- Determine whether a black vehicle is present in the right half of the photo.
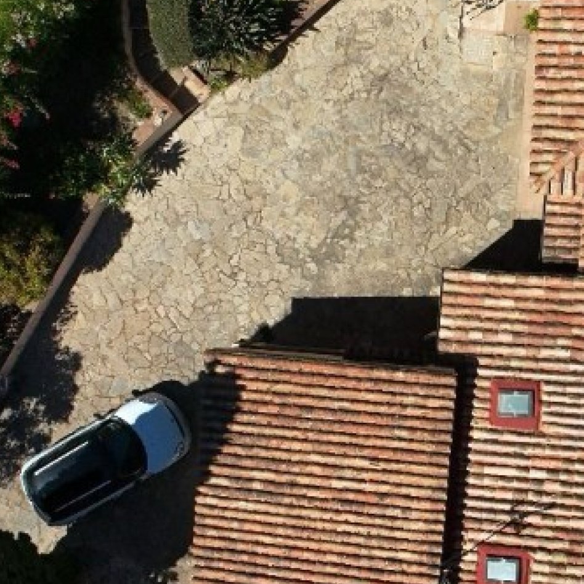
No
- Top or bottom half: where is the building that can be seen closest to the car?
bottom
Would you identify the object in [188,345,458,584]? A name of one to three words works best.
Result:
building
